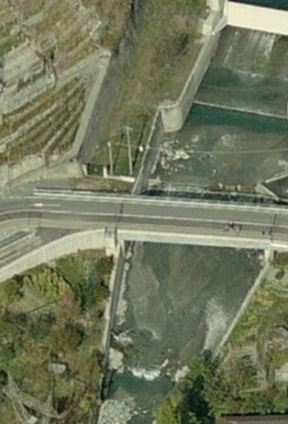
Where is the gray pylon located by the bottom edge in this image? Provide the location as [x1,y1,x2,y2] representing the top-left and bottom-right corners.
[1,375,75,424]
